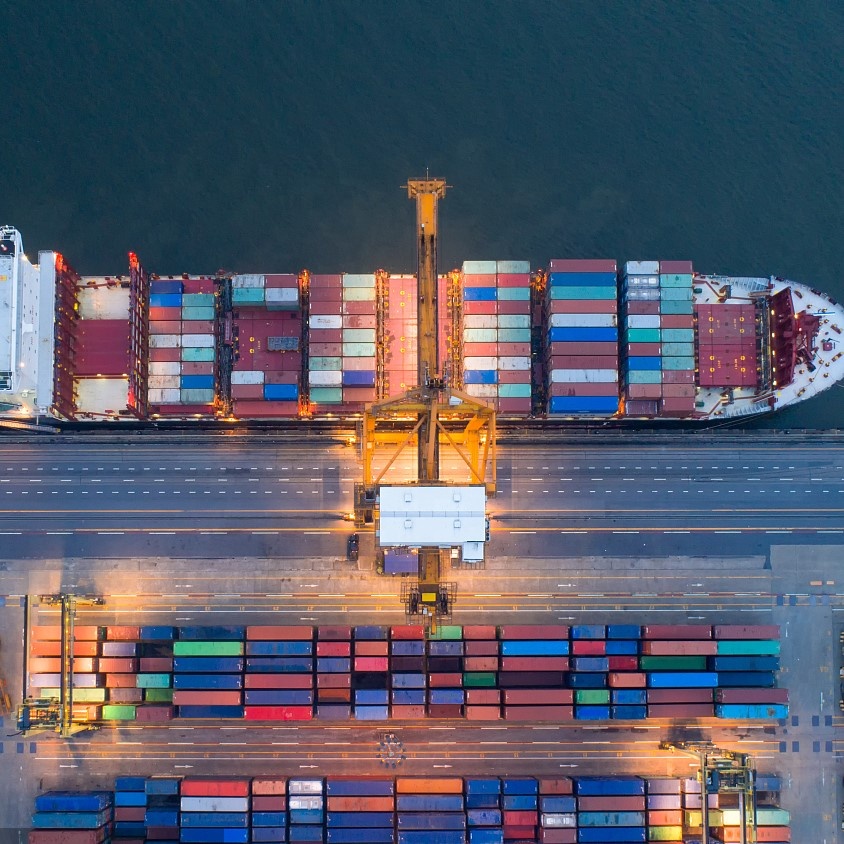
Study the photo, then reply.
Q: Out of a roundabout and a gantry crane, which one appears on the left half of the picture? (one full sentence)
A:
There is a gantry crane on the left half of the picture.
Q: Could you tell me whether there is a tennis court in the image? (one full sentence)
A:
No, I can't see a single tennis court in this photo.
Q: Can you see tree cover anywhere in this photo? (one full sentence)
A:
No, there is no tree cover in the image.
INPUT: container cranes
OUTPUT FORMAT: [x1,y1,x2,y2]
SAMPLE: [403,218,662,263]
[662,739,757,844]
[14,592,103,746]
[340,172,505,634]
